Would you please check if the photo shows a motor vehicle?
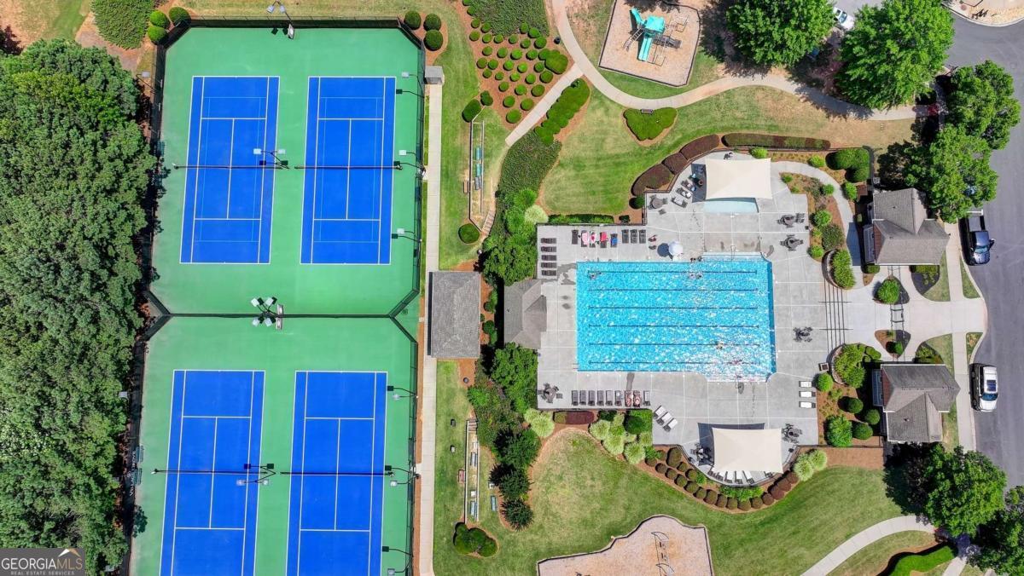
Yes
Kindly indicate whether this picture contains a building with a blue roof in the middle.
No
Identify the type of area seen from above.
sports ground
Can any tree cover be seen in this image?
Yes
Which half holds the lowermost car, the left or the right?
right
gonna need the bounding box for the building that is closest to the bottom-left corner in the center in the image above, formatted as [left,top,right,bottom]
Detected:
[430,271,479,358]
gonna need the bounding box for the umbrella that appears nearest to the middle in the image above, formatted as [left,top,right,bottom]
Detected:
[668,241,683,256]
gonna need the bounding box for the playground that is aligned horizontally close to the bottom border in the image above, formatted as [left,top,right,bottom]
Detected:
[534,513,716,576]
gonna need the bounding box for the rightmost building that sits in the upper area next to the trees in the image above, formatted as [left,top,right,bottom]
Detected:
[860,187,952,265]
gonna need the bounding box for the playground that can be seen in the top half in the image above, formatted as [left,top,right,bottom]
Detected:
[596,0,703,89]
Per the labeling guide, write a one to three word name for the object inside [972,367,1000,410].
car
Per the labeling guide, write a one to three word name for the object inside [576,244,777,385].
swimming pool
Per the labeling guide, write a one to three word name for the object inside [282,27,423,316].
tennis court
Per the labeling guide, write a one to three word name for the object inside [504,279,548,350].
building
